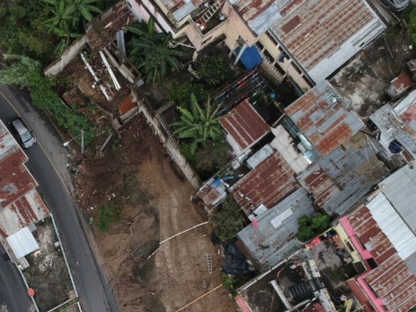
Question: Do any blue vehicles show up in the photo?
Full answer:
No, there's no blue vehicle here.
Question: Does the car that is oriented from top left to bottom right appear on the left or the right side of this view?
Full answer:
You can find the car that is oriented from top left to bottom right on the left side of the picture.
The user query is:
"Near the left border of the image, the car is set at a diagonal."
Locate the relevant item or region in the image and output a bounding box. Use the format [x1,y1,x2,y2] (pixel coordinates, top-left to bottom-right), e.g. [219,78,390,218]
[6,114,41,151]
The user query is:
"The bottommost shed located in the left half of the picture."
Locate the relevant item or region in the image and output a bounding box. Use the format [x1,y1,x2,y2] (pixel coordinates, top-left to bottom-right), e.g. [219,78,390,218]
[6,230,39,258]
